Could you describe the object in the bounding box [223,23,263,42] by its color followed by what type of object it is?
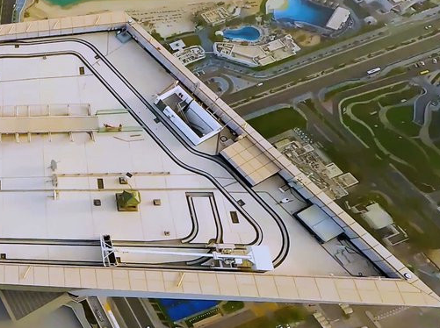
blue swimming pool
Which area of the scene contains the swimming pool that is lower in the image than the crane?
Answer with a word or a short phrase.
bottom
